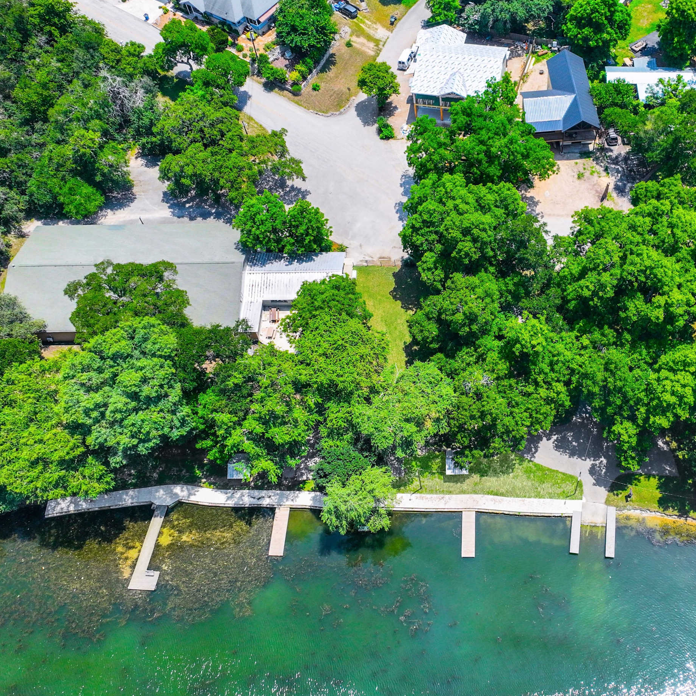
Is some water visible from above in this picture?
Yes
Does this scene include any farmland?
No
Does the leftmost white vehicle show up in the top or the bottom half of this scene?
top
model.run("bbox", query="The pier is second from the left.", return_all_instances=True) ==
[269,507,290,557]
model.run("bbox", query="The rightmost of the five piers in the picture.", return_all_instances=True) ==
[604,510,616,559]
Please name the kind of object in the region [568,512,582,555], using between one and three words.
pier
